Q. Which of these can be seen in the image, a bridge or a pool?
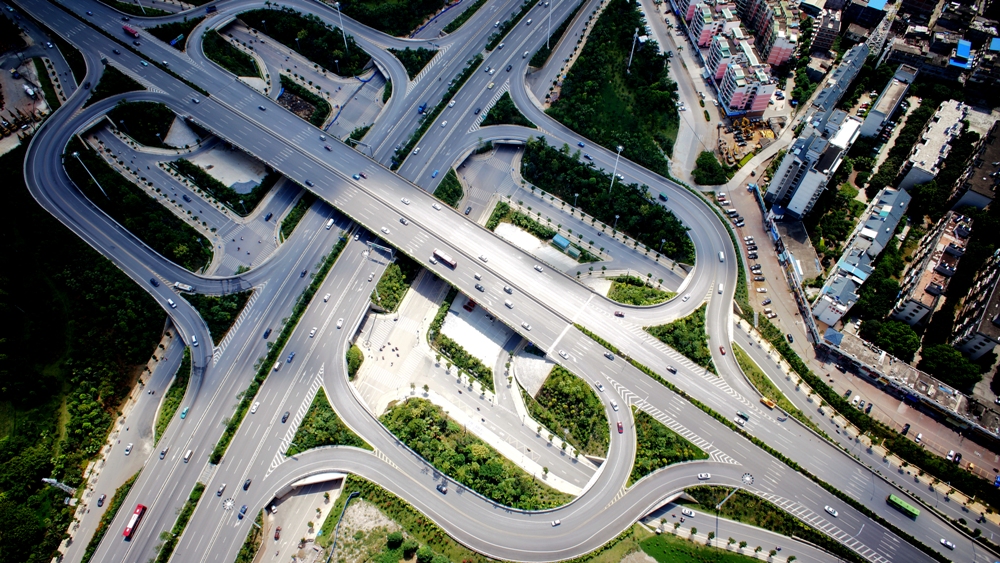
bridge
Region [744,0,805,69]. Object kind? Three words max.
building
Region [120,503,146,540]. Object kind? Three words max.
bus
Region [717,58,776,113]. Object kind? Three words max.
building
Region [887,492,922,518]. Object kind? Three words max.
bus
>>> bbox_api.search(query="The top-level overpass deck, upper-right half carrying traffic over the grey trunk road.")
[208,76,594,323]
